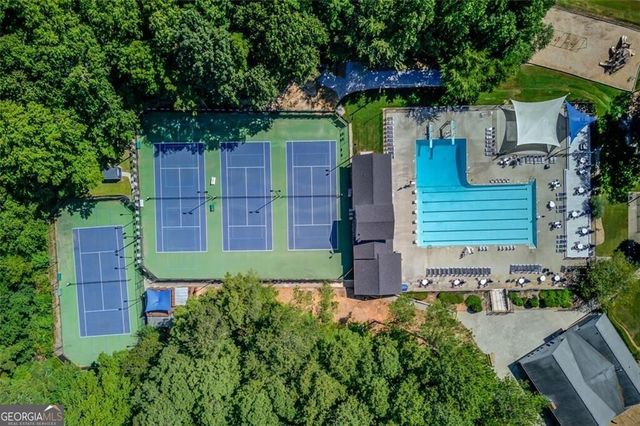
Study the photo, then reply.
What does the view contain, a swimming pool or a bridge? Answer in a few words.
swimming pool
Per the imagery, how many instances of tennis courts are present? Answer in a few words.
4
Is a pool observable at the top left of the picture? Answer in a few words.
No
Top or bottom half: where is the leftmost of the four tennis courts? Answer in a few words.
bottom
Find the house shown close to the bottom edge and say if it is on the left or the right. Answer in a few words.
right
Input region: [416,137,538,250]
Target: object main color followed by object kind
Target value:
blue swimming pool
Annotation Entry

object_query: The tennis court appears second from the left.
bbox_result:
[137,111,214,281]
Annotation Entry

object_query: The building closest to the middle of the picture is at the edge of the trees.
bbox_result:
[352,152,402,297]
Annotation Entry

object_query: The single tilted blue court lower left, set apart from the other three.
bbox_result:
[57,199,141,367]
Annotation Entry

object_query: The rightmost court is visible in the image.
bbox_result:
[278,112,352,280]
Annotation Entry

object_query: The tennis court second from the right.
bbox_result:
[212,112,281,281]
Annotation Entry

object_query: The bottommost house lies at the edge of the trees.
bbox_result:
[518,310,640,426]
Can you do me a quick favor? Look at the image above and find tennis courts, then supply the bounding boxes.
[57,199,141,367]
[278,112,352,280]
[212,112,281,281]
[137,111,214,281]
